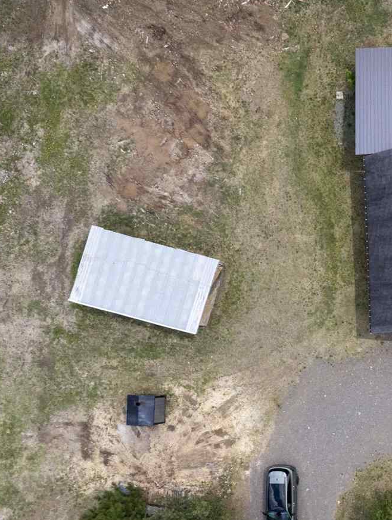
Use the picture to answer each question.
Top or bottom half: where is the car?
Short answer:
bottom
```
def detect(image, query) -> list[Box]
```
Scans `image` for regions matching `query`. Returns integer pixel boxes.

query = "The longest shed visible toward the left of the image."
[69,227,231,334]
